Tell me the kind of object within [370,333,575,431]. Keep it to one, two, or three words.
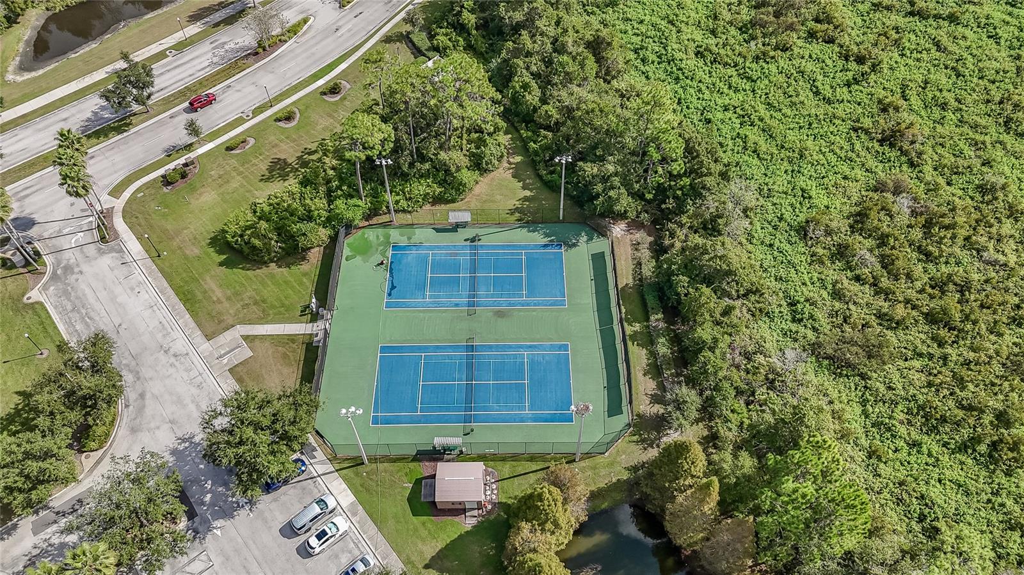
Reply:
tennis court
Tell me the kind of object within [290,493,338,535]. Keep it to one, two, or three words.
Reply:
car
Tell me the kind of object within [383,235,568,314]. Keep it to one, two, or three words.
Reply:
tennis court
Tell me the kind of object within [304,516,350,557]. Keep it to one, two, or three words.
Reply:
car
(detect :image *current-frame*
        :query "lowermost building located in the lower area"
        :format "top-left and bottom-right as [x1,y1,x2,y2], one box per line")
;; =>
[426,462,485,529]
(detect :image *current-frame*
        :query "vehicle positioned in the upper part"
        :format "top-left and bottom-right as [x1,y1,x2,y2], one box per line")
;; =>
[187,93,218,112]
